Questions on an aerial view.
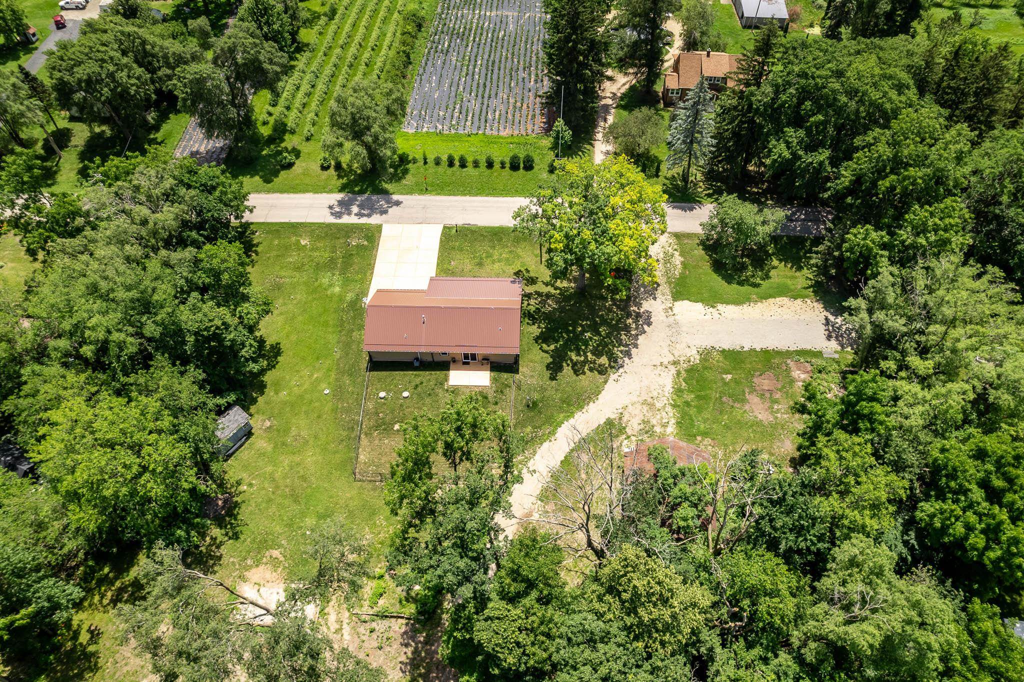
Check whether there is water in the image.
No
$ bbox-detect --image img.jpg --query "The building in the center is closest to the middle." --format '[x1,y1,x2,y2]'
[363,277,522,365]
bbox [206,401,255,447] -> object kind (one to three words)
shed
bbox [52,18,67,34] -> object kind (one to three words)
car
